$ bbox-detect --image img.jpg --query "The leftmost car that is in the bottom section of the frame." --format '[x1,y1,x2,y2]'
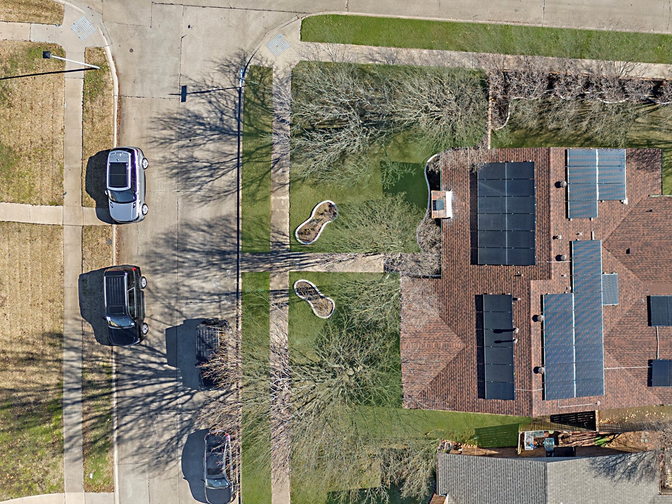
[101,267,148,348]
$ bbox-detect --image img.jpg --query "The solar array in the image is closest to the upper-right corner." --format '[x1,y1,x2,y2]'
[568,148,627,218]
